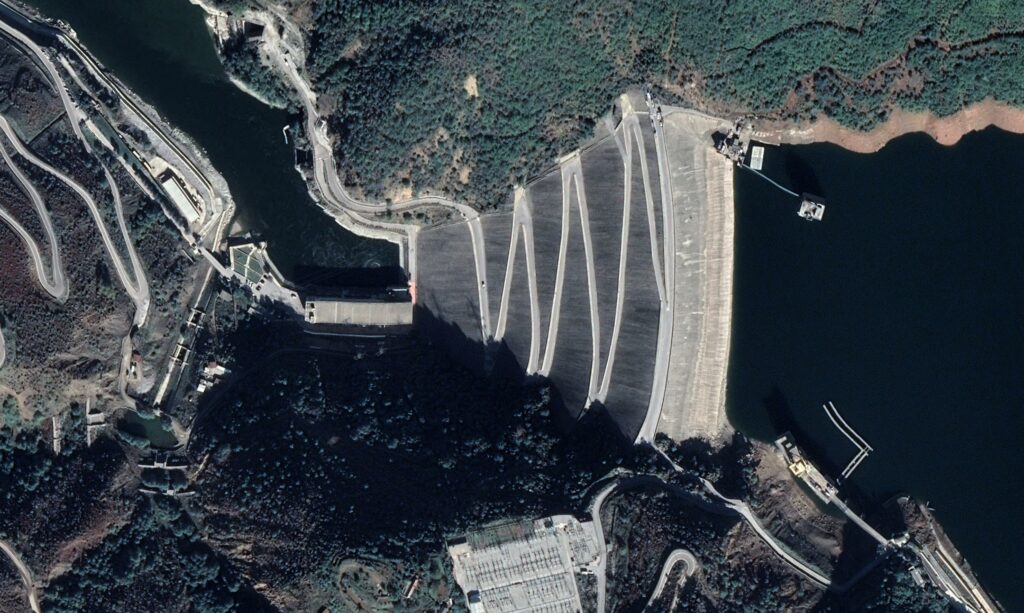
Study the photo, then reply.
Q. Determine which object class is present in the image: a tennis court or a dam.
dam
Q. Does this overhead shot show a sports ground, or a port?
port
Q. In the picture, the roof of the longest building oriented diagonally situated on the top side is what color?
white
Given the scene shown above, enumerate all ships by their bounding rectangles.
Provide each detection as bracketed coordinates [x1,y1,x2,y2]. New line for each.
[750,146,764,170]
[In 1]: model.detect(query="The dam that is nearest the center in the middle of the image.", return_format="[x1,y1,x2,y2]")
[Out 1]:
[413,107,741,447]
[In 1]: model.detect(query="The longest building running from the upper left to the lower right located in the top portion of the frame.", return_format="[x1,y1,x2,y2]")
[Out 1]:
[163,176,201,222]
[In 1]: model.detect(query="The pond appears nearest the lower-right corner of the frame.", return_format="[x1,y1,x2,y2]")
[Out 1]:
[728,125,1024,613]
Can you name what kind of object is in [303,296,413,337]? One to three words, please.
building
